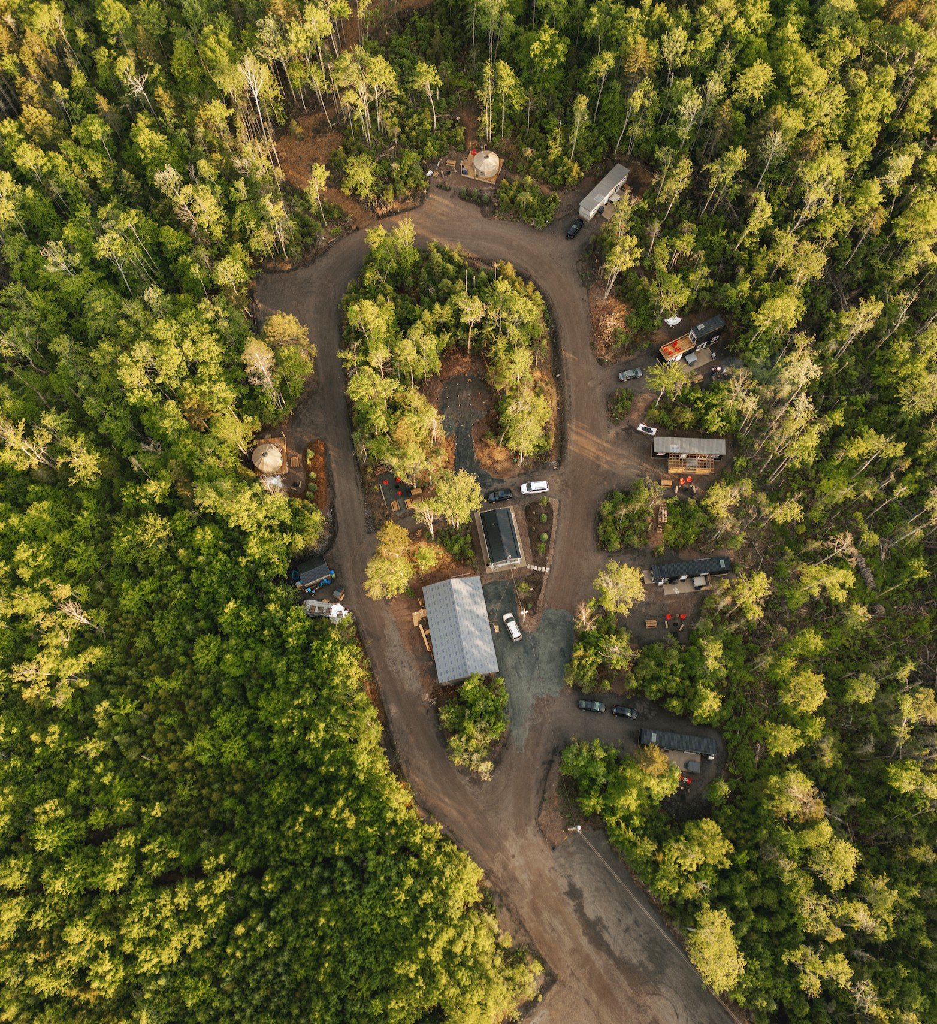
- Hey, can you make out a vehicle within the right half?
Yes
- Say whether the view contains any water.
No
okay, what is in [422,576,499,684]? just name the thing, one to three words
building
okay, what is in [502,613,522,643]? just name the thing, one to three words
car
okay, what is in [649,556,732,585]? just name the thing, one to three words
house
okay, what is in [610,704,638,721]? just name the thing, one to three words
car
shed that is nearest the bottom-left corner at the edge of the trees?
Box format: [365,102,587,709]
[297,556,331,587]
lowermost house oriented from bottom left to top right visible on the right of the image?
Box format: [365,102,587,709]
[657,314,726,365]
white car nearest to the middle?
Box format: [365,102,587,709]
[520,481,549,495]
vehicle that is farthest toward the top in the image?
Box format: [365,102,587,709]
[565,219,584,239]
